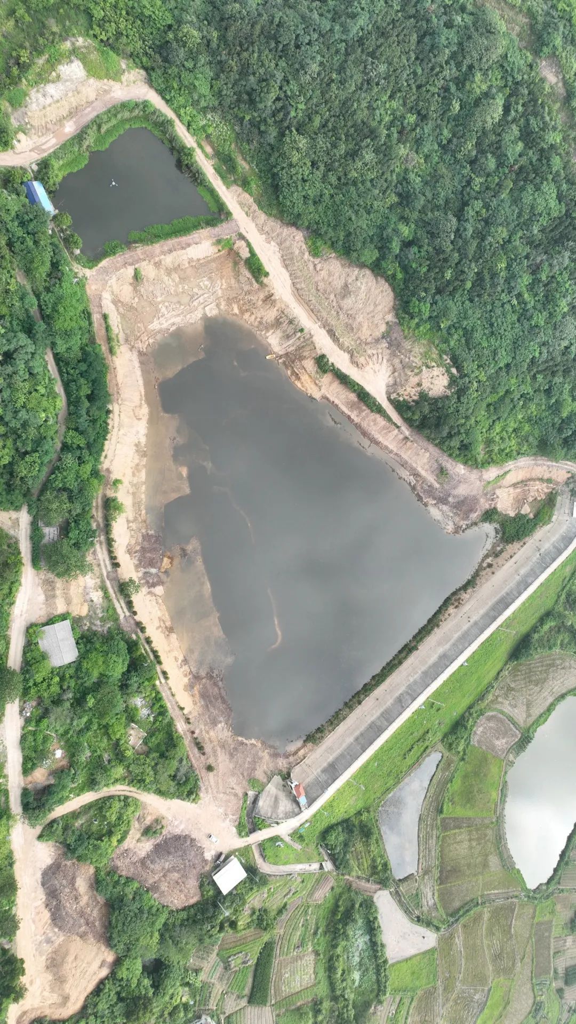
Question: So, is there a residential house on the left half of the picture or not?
Yes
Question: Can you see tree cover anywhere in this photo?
Yes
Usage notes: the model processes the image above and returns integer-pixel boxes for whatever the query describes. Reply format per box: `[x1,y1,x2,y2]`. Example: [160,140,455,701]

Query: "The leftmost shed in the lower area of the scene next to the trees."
[40,620,79,666]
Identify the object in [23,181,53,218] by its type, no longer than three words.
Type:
house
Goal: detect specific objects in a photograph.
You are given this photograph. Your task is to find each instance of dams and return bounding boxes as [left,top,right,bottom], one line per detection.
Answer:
[293,472,576,848]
